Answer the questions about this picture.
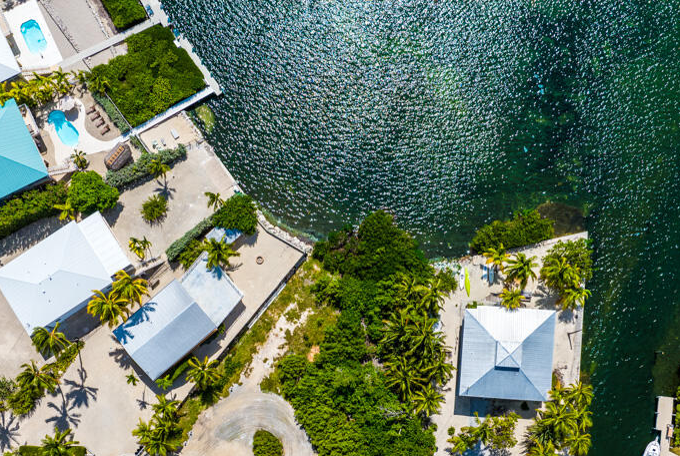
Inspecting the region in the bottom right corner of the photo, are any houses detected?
Yes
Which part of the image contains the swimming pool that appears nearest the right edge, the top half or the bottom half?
top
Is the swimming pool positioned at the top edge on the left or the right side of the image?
left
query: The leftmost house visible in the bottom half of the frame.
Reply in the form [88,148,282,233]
[0,213,135,336]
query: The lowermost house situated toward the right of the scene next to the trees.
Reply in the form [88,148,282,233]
[458,309,557,401]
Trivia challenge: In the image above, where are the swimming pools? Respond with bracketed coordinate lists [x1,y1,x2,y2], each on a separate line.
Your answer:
[36,96,120,167]
[1,0,63,66]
